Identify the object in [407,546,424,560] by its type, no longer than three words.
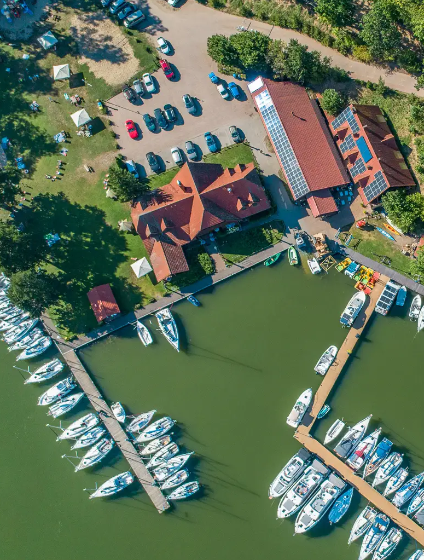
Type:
boat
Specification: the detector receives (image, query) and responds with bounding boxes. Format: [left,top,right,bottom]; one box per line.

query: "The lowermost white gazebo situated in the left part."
[131,257,153,281]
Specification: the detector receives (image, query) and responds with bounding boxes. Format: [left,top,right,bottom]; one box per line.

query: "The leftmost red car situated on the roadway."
[126,120,139,141]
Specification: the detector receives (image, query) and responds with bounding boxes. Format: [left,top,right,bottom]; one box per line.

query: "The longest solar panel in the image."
[255,90,309,198]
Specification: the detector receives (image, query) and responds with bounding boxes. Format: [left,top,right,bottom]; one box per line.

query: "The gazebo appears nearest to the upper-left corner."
[38,32,61,53]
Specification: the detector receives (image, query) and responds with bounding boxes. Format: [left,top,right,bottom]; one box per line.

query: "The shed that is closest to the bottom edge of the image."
[87,284,120,322]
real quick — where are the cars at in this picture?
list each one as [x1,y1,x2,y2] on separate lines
[124,159,141,176]
[143,73,157,94]
[182,94,197,116]
[117,5,138,22]
[143,114,157,133]
[185,141,198,161]
[164,105,177,123]
[133,80,146,98]
[155,36,172,56]
[147,152,161,173]
[123,9,147,29]
[216,84,229,101]
[123,85,138,104]
[161,58,177,81]
[109,0,128,14]
[166,0,180,7]
[227,81,241,101]
[171,147,185,166]
[203,132,218,154]
[126,120,139,141]
[230,125,241,144]
[153,108,169,130]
